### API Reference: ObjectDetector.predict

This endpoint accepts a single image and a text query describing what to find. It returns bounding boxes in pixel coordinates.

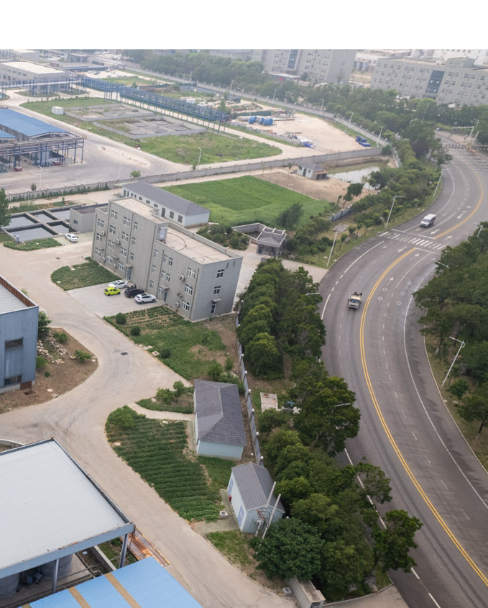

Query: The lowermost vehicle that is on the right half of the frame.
[349,291,364,308]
